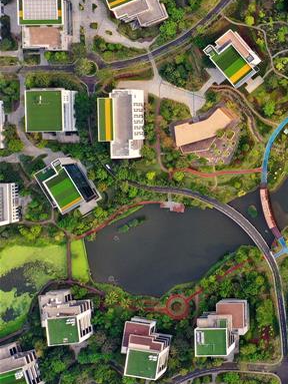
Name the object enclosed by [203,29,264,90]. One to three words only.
building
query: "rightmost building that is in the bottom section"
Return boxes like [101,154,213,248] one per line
[196,296,254,357]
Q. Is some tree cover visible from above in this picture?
Yes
